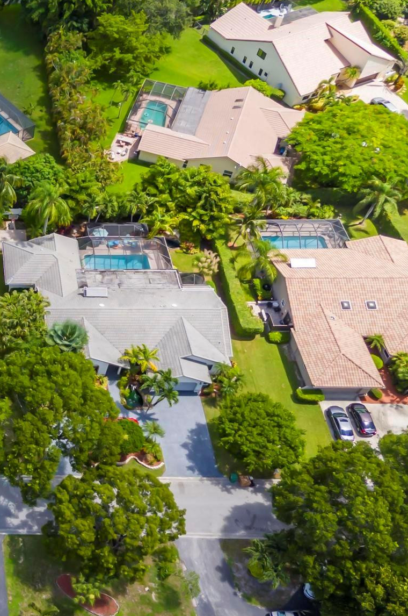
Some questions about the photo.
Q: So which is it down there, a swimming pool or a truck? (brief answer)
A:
swimming pool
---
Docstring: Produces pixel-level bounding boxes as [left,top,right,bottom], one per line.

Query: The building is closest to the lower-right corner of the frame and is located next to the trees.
[274,234,408,398]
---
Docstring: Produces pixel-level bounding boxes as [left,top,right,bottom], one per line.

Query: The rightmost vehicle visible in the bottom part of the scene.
[348,403,377,436]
